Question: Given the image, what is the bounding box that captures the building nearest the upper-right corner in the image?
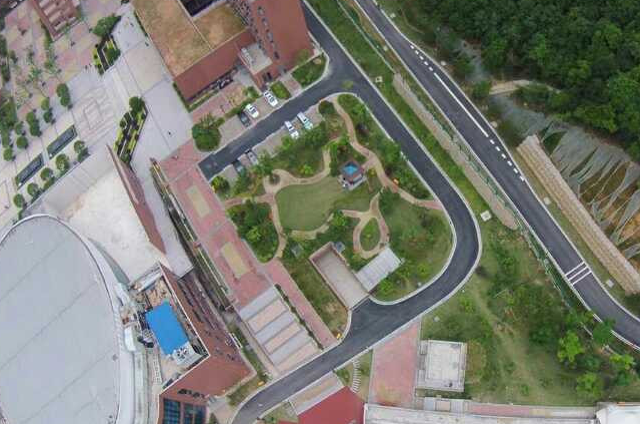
[338,161,366,189]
